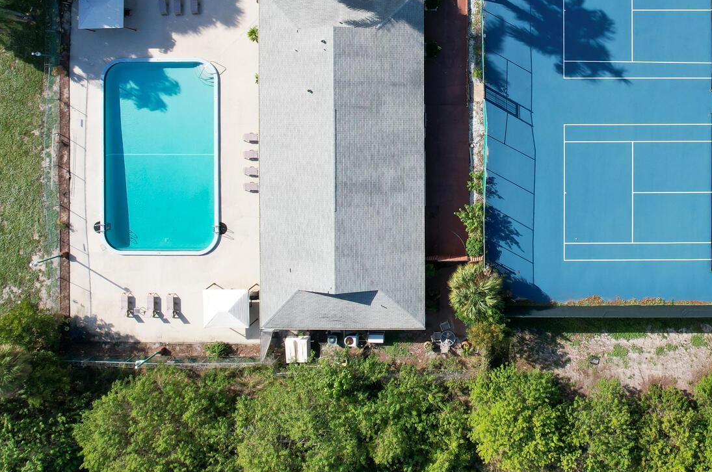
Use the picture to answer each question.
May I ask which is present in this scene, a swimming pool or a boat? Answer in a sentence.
Looking from above, you can make out a swimming pool.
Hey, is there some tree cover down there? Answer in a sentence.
Yes, there is tree cover in the image.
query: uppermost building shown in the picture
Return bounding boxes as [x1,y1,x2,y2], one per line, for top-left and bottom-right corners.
[257,0,425,331]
